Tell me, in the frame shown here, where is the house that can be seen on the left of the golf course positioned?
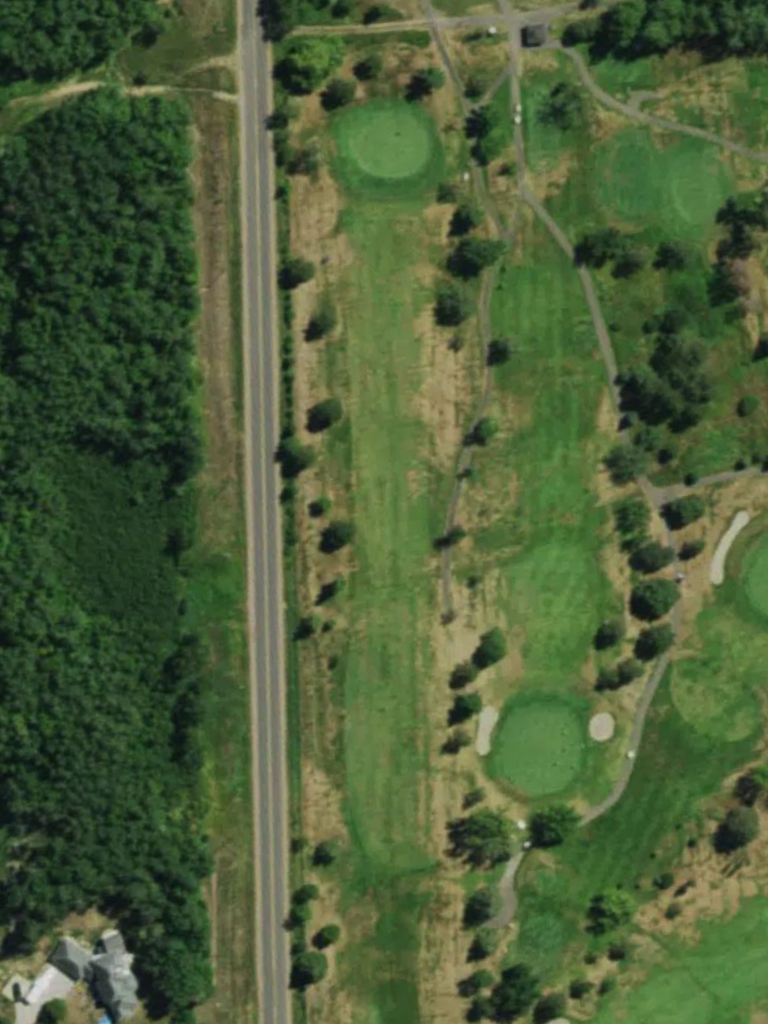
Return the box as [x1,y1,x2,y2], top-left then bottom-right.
[45,927,144,1024]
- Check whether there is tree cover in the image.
Yes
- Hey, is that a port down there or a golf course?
golf course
